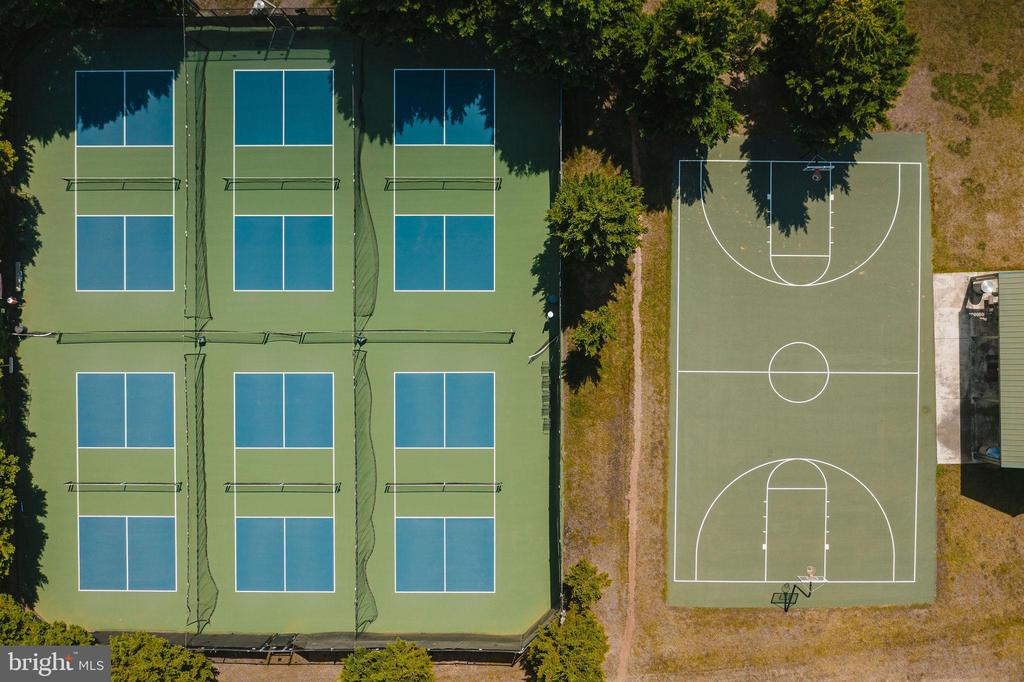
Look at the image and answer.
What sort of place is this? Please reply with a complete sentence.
The area seen from above is a sports ground.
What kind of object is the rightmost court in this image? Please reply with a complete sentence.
I'd say the rightmost court is a basketball court.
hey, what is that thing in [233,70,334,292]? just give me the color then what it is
blue sports court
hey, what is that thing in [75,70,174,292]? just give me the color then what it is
blue sports court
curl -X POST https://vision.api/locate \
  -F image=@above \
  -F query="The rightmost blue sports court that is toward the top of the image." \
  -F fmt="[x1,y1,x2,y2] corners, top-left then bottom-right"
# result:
[394,69,495,292]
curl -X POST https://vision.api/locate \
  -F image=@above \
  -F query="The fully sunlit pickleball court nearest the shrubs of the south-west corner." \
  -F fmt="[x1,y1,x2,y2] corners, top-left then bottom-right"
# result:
[76,372,177,592]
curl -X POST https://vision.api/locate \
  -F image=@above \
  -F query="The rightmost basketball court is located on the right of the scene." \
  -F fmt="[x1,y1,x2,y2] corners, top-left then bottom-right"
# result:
[666,133,937,608]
